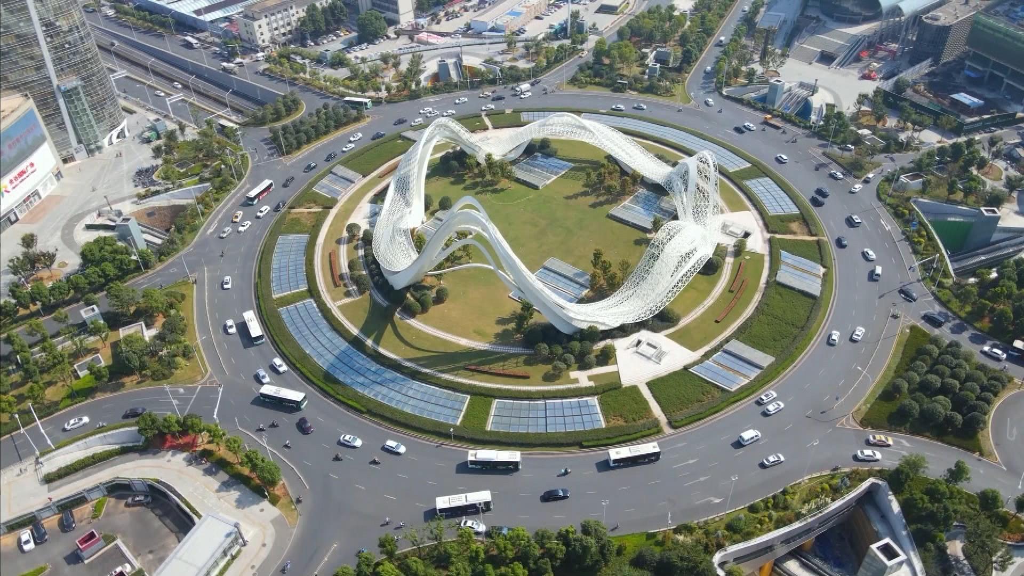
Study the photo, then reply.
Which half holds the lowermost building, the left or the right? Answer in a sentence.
The lowermost building appears in the left half of the scene.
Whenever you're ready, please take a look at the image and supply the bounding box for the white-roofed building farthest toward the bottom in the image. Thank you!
[158,513,246,576]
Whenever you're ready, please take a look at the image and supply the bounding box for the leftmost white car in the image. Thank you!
[20,529,35,550]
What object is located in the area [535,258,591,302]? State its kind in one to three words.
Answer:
building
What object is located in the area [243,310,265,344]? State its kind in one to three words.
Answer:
bus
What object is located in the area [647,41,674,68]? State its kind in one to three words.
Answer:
building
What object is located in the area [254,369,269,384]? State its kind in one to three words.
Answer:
car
